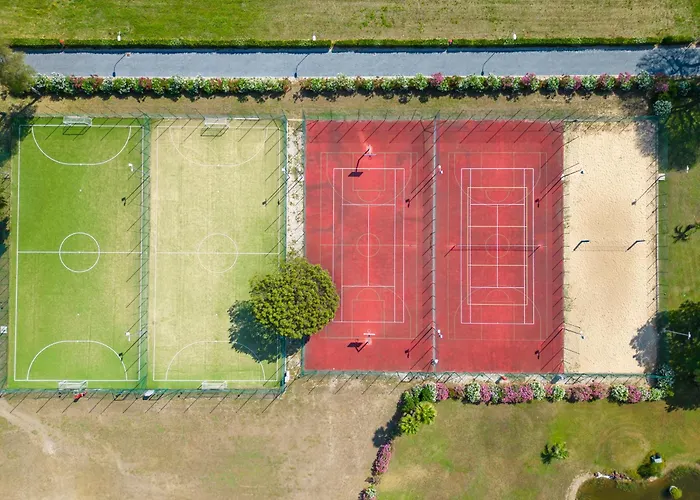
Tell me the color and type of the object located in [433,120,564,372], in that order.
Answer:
red sports court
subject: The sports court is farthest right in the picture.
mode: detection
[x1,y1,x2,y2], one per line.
[563,120,658,372]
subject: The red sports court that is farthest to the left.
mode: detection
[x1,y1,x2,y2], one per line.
[305,120,434,372]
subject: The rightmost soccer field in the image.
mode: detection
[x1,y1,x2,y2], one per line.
[148,118,287,389]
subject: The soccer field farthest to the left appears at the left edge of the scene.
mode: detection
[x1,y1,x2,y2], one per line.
[8,118,150,389]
